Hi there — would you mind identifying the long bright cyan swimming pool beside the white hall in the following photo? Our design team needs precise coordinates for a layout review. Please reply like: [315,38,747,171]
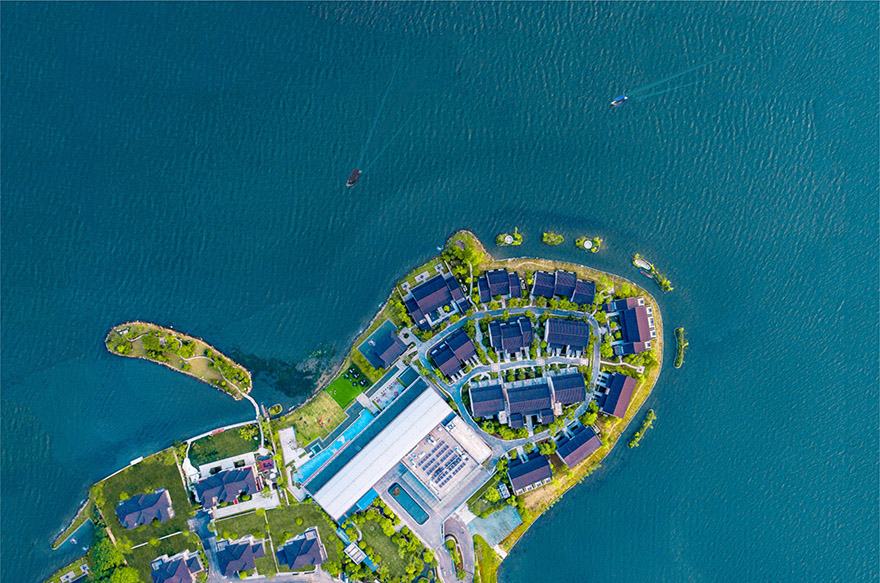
[293,403,375,485]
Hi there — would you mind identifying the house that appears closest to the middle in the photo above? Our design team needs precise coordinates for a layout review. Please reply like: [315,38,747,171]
[400,263,472,333]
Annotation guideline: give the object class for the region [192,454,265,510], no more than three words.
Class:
house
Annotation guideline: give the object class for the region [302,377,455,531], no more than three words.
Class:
building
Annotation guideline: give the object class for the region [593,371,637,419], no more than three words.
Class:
house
